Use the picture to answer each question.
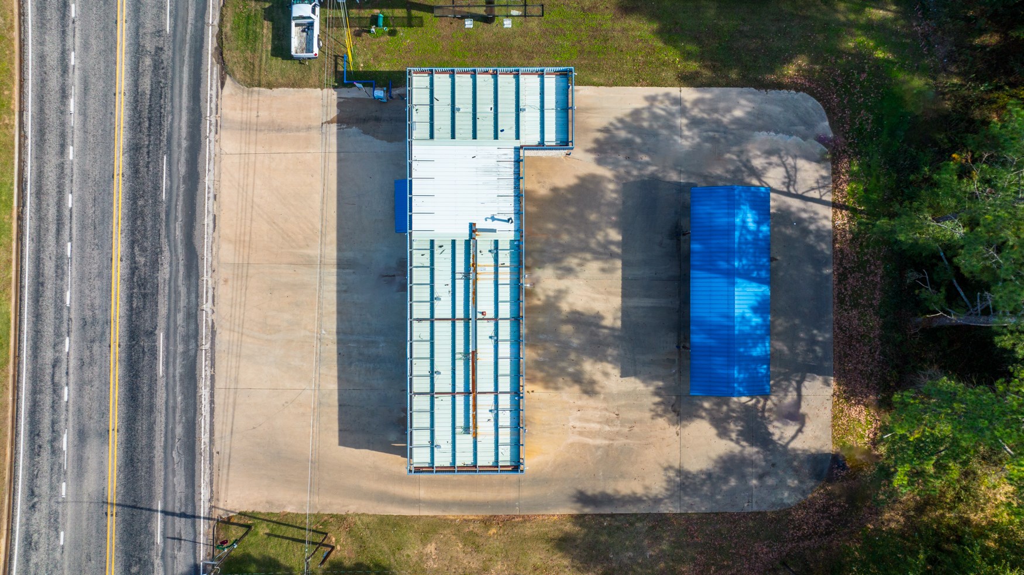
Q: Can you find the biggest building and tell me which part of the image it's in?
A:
center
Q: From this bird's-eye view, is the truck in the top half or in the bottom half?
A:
top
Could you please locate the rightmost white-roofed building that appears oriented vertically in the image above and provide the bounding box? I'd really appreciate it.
[407,68,573,474]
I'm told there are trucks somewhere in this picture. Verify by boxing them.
[287,0,324,64]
